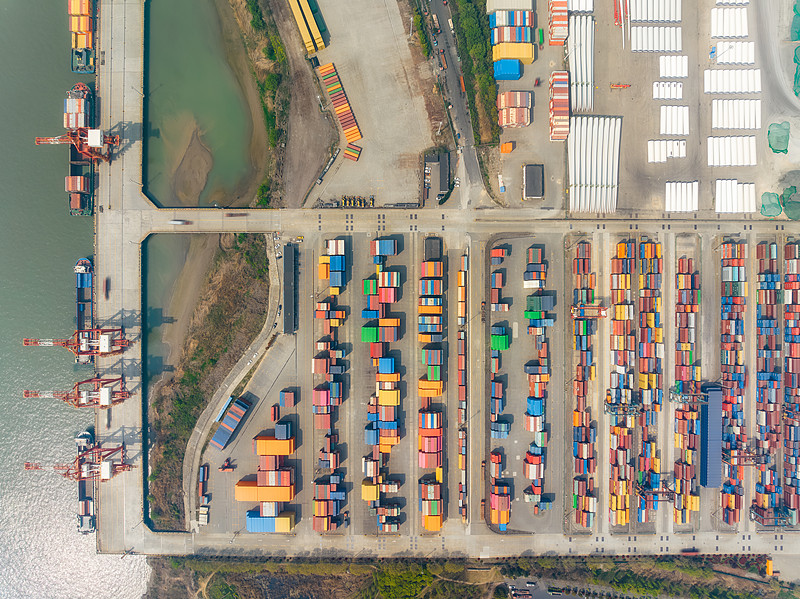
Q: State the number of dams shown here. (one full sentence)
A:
The picture shows no dams.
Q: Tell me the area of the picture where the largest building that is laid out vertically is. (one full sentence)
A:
The largest building that is laid out vertically appears toward the bottom right of the photo.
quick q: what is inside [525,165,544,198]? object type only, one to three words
building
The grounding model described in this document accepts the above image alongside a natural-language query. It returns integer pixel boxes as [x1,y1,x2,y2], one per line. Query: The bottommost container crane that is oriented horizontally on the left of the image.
[23,437,123,483]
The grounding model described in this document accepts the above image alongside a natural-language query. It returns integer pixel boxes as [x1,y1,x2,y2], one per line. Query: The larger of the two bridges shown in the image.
[157,208,277,235]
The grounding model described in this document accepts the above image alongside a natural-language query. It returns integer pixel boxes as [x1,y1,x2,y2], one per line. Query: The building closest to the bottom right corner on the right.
[701,388,722,487]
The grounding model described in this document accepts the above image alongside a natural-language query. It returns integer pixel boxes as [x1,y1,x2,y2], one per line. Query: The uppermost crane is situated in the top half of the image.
[38,127,116,167]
